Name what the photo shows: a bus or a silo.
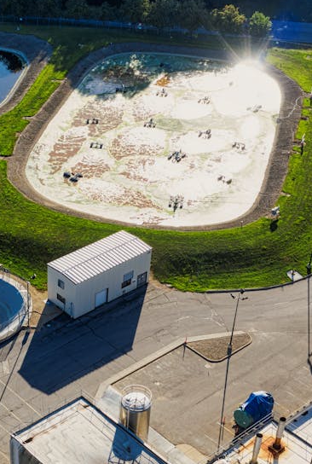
silo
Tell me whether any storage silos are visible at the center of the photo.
No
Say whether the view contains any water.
Yes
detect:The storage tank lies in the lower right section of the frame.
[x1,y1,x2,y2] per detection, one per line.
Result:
[236,394,277,432]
